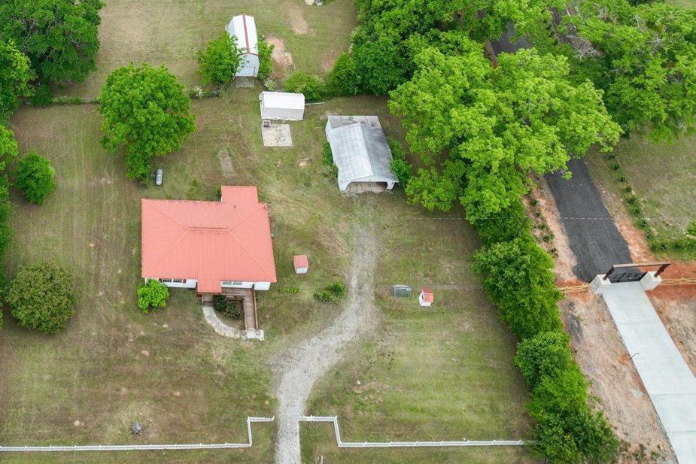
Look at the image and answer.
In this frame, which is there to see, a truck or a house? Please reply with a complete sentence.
It is a house that can be seen here.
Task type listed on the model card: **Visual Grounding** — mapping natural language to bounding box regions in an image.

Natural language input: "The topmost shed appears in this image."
[230,14,261,76]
